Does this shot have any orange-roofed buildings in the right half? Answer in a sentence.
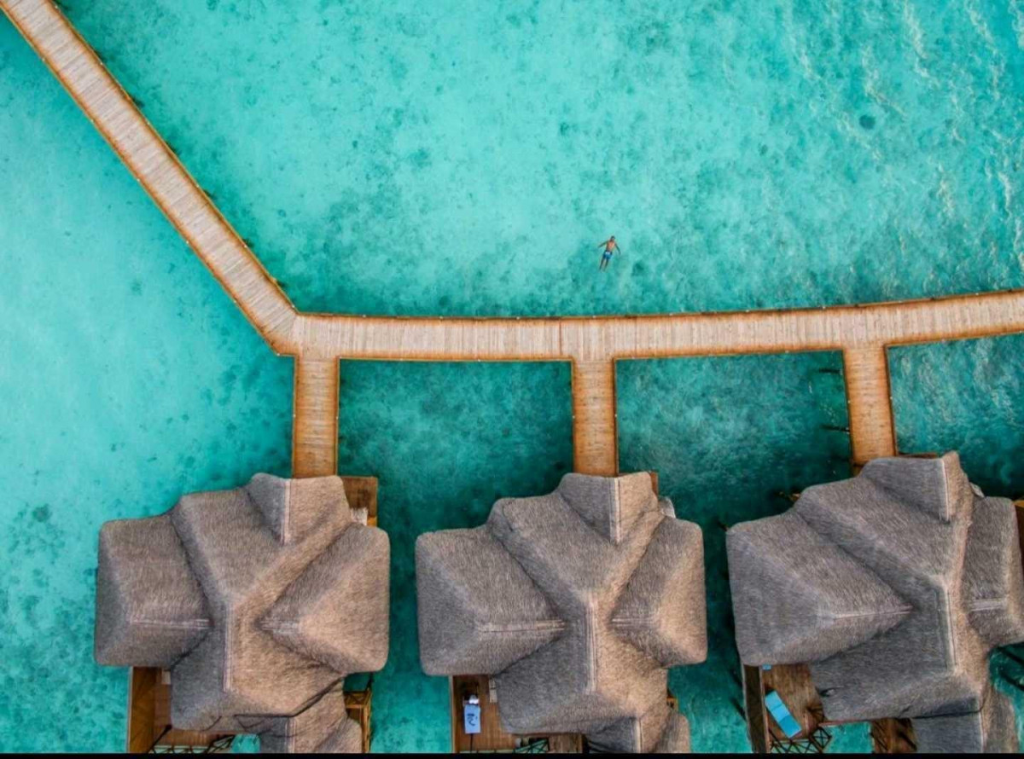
No, looking in the right half, there is no orange-roofed building.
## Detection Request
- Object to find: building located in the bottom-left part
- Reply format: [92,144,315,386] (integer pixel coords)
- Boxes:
[95,470,391,759]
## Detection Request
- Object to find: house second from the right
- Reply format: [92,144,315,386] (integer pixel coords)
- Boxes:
[416,467,707,759]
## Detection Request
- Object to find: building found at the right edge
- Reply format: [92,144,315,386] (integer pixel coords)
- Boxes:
[710,450,1024,759]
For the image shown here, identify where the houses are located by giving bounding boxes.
[416,467,707,759]
[95,470,391,759]
[710,450,1024,759]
